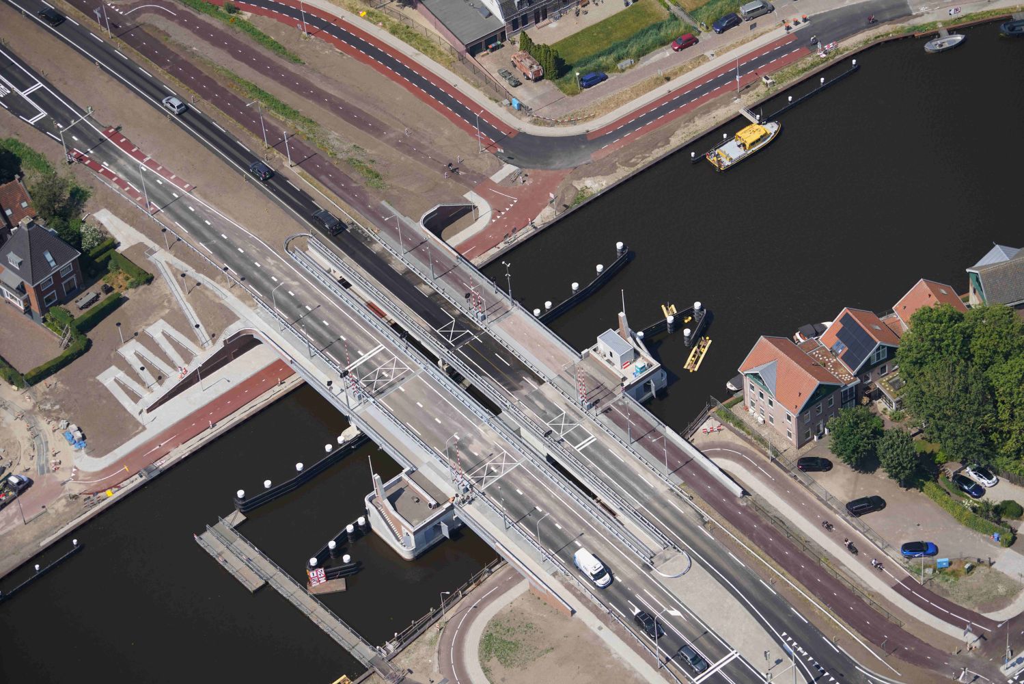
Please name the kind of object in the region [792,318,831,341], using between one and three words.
boat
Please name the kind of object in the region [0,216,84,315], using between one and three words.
house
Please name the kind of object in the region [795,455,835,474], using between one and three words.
car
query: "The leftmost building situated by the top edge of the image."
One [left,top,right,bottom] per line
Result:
[432,0,506,57]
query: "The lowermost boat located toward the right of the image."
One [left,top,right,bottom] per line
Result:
[722,368,741,392]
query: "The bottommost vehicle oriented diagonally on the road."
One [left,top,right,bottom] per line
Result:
[671,641,714,675]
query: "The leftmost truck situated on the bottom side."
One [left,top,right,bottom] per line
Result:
[0,471,34,507]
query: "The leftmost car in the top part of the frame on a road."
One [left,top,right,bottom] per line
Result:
[34,4,68,29]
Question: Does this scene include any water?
Yes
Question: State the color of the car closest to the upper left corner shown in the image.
black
